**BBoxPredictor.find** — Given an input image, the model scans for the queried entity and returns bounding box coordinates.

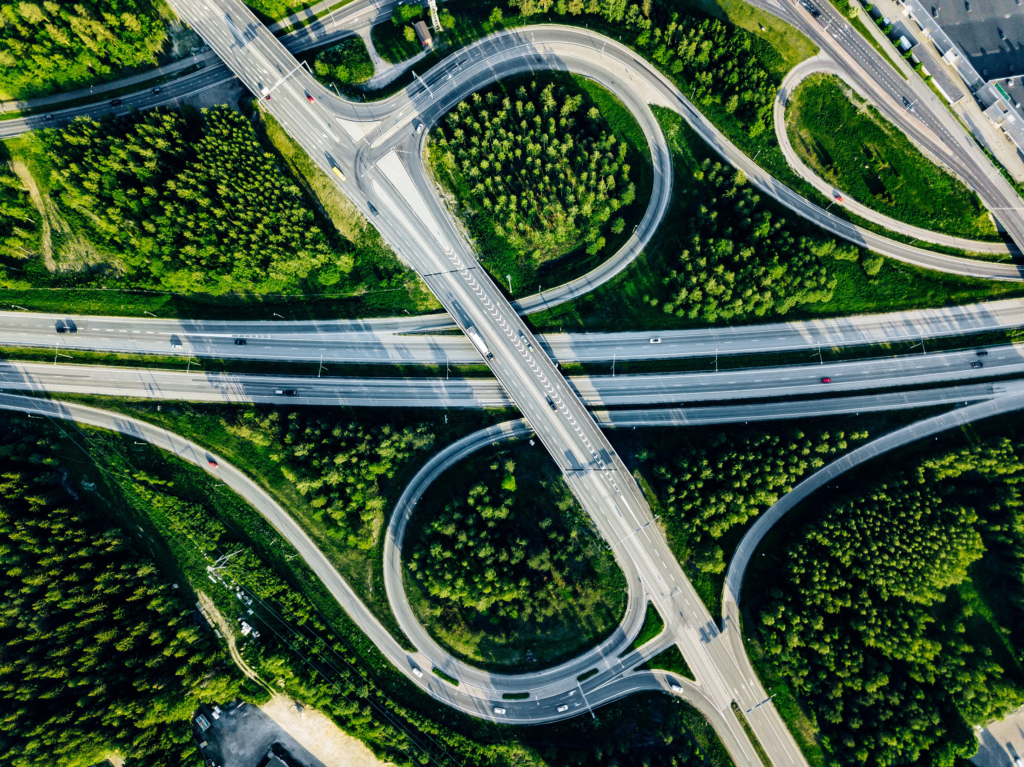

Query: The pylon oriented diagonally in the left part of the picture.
[198,549,243,577]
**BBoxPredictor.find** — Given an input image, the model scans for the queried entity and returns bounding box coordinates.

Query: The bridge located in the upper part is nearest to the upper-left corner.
[201,15,304,89]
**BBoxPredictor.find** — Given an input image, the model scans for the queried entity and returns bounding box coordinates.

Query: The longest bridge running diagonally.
[422,266,628,471]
